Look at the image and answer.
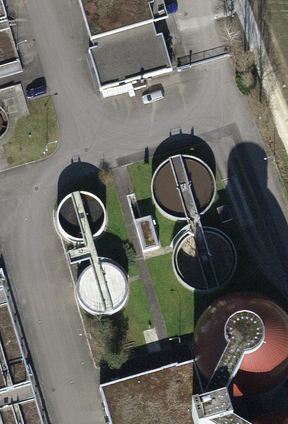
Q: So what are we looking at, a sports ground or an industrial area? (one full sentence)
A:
What you see here is an industrial area.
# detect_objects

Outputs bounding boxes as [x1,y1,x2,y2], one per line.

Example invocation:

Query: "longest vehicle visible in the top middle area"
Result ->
[142,90,165,104]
